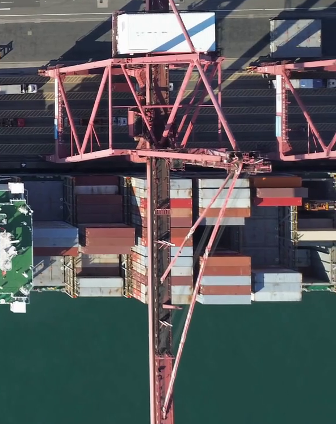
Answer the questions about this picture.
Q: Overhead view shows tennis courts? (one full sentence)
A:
No, no tennis court is visible in the scene.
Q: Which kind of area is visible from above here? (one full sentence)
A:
The area seen from above is a port.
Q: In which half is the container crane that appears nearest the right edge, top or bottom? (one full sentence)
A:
The container crane that appears nearest the right edge is in the top half of the image.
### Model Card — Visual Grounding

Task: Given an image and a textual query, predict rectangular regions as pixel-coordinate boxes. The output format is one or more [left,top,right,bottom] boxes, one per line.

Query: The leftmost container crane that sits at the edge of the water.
[36,0,266,424]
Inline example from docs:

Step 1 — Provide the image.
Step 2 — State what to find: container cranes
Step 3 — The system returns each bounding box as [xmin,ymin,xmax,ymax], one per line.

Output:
[251,65,336,162]
[36,0,266,424]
